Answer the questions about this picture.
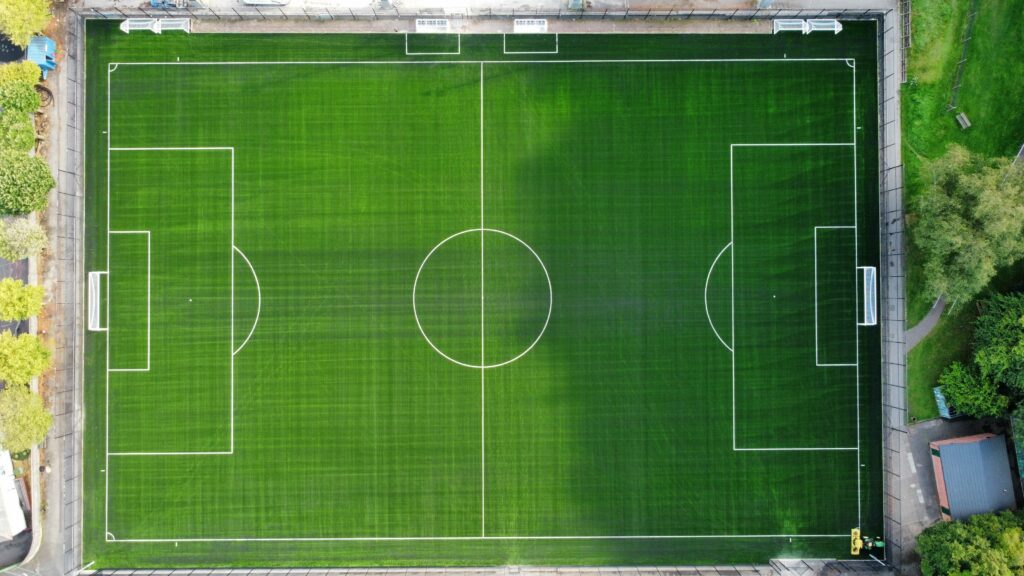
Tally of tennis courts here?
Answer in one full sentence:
The picture shows no tennis courts.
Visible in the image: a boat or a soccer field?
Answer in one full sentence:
The one in the frame is a soccer field.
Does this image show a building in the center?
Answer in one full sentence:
No, I can find no building in the center.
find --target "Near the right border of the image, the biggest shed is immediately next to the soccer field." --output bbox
[930,433,1016,524]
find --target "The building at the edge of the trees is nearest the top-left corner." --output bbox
[24,37,59,82]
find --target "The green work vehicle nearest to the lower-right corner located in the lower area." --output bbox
[864,537,887,553]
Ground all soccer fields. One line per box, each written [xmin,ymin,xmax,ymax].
[83,19,885,570]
